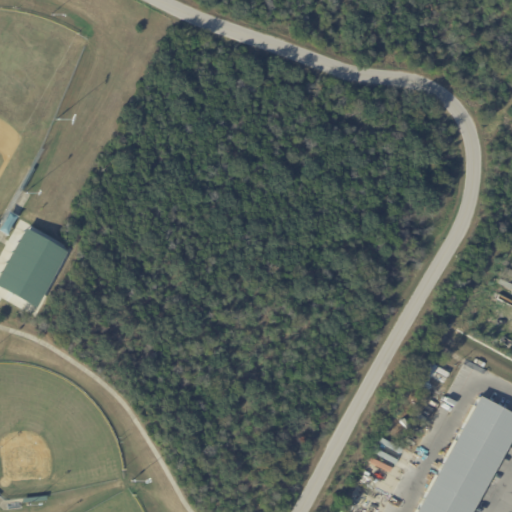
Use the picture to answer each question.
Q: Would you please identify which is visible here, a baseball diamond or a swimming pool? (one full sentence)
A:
It is a baseball diamond that can be seen here.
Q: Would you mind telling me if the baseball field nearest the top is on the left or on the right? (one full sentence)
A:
The baseball field nearest the top is on the left side of the image.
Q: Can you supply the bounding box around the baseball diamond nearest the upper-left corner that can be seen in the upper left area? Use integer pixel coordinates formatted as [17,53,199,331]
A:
[0,9,86,216]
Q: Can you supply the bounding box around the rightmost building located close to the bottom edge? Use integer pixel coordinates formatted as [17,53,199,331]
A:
[416,393,512,512]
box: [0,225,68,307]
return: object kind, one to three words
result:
building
